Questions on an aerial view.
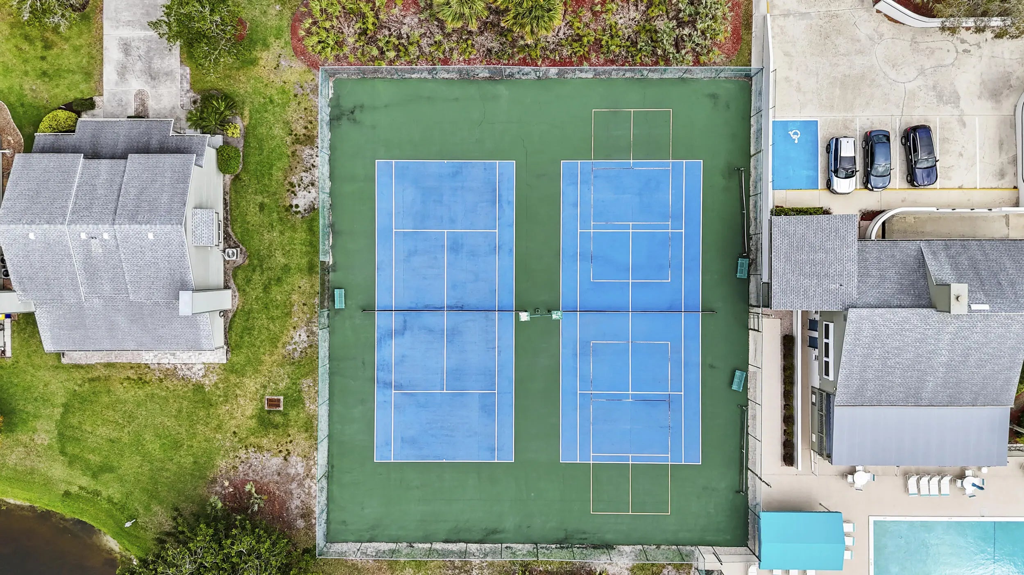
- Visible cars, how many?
3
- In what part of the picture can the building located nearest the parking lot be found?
right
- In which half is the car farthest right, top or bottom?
top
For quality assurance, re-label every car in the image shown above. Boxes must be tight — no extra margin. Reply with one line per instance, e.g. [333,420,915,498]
[901,128,939,192]
[825,135,858,195]
[860,129,893,192]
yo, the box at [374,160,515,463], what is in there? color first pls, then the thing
blue tennis court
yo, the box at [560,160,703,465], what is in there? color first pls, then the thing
blue tennis court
